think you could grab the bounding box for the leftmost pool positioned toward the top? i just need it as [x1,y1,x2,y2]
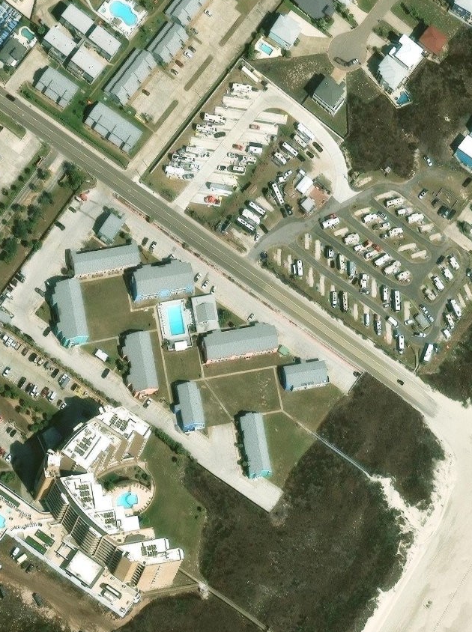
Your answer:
[15,26,37,48]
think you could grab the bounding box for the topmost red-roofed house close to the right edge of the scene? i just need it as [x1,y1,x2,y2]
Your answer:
[418,23,449,59]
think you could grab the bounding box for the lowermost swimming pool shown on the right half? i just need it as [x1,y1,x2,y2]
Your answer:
[391,87,413,108]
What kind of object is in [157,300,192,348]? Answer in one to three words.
swimming pool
